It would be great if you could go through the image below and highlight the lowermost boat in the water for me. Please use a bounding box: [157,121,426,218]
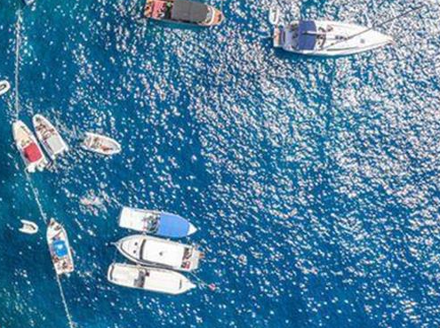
[103,262,197,299]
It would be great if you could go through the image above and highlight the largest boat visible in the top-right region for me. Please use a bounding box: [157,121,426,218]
[266,6,425,55]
